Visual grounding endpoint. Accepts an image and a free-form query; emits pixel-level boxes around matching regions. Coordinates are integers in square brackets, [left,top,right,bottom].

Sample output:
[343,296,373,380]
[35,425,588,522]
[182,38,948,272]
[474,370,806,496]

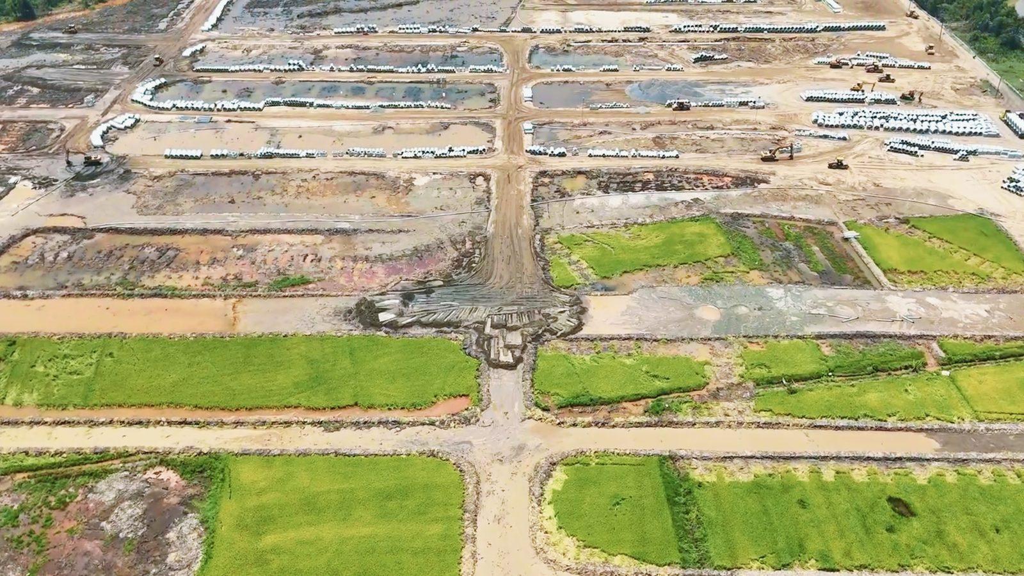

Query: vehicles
[759,143,794,161]
[147,56,164,67]
[669,97,694,112]
[827,158,851,170]
[907,8,921,19]
[57,24,77,36]
[925,44,936,55]
[851,79,880,93]
[900,88,928,102]
[878,73,898,83]
[64,149,103,166]
[866,63,885,74]
[829,56,855,69]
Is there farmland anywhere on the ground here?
Yes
